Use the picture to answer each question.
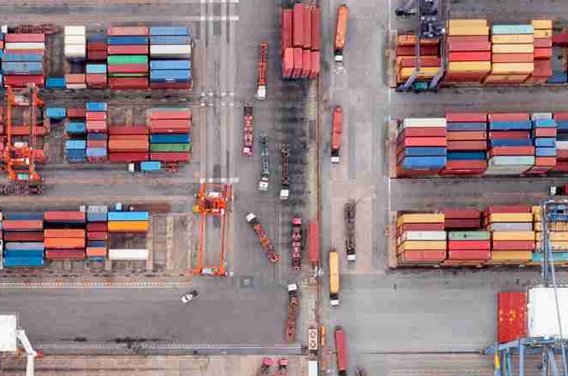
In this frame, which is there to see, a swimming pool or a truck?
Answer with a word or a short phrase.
truck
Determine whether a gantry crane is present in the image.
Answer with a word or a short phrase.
Yes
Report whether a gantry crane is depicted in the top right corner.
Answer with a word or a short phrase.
Yes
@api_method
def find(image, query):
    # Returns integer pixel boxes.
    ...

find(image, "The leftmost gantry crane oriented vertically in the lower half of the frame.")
[193,180,234,273]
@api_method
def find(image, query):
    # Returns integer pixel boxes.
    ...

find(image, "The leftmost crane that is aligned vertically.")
[4,80,50,180]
